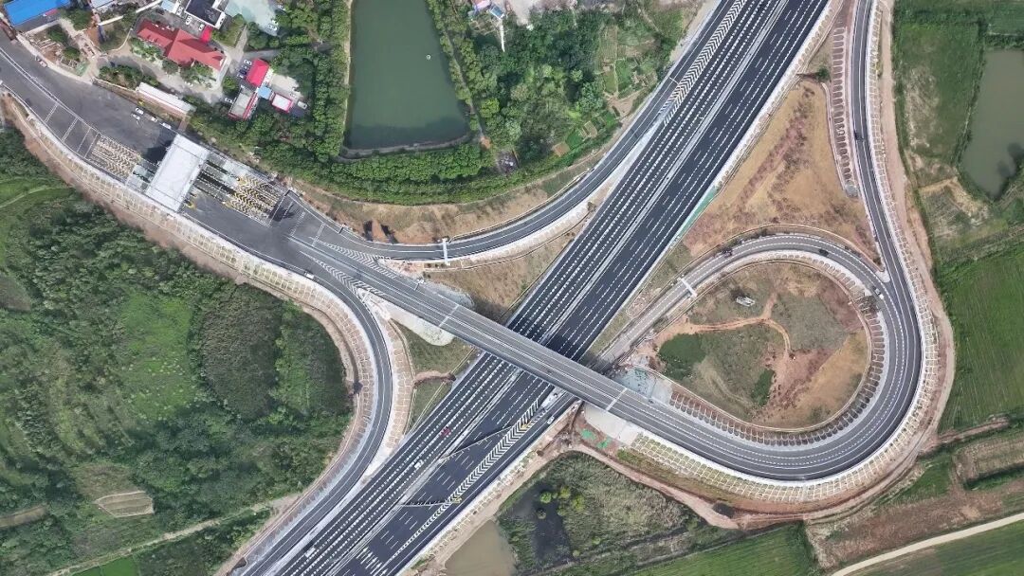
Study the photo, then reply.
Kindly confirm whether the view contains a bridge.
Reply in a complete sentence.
Yes, this view includes a bridge.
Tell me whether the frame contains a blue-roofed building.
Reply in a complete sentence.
Yes, the frame does contain a blue-roofed building.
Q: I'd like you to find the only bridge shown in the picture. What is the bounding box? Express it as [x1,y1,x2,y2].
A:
[442,303,623,413]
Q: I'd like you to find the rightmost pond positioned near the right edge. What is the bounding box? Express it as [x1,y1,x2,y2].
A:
[959,49,1024,198]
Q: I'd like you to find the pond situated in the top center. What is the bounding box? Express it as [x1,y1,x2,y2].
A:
[345,0,468,151]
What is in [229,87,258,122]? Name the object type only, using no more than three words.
building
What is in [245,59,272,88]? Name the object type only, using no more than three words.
building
